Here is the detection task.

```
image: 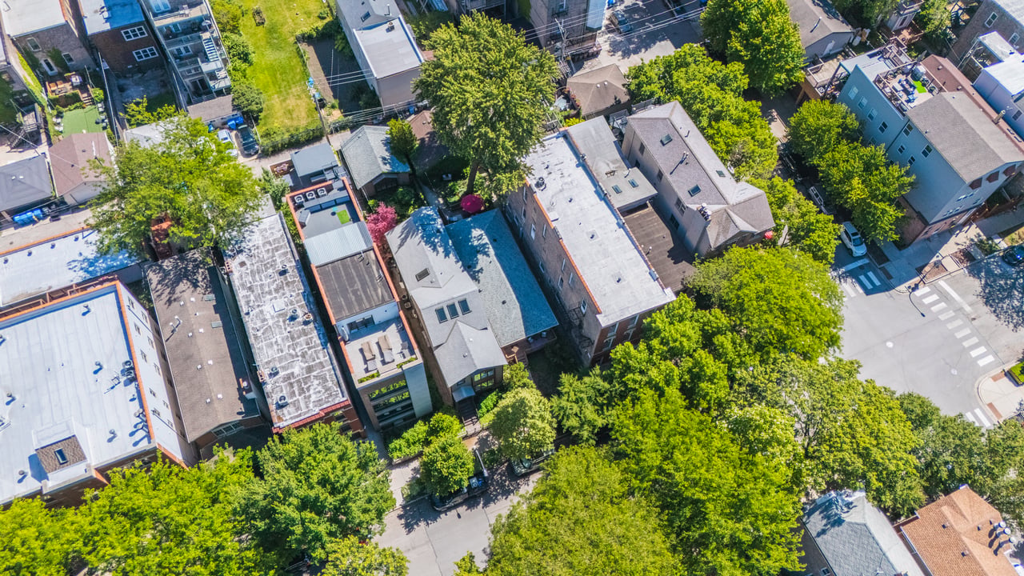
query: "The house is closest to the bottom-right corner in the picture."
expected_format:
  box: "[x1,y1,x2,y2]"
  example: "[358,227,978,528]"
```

[895,487,1024,576]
